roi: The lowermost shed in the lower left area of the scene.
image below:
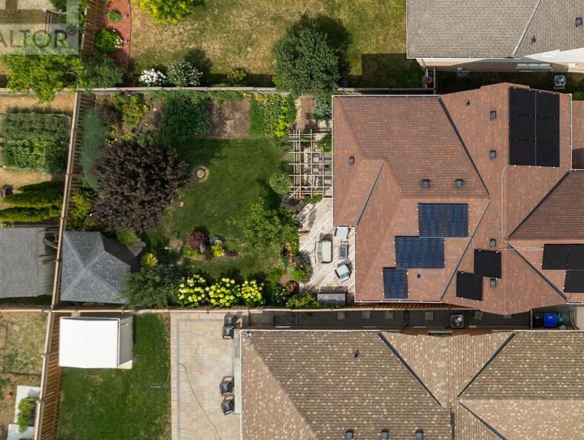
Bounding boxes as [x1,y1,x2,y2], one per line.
[59,314,133,369]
